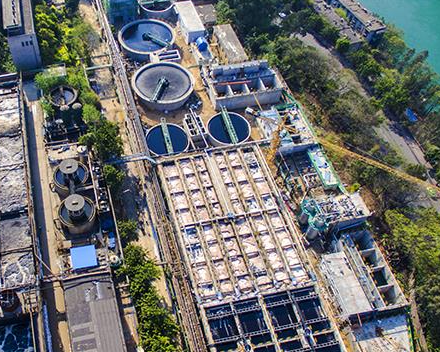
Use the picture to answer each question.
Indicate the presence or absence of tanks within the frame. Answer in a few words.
Yes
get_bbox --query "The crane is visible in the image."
[246,106,440,204]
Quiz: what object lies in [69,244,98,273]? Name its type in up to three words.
shed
